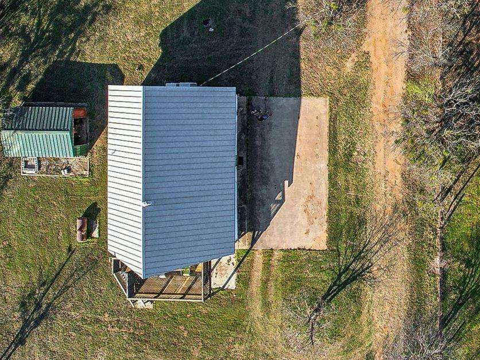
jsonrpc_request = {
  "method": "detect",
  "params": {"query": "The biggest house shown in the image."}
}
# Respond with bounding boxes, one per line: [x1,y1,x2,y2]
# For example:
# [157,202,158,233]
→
[108,85,245,278]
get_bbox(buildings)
[1,102,100,158]
[108,85,245,278]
